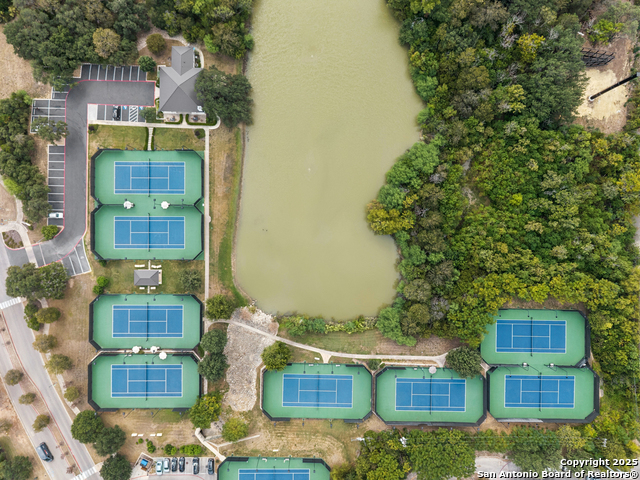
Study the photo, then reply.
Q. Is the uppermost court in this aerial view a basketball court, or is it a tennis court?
tennis court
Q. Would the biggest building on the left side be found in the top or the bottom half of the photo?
top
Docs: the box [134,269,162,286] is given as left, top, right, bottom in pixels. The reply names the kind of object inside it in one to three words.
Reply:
building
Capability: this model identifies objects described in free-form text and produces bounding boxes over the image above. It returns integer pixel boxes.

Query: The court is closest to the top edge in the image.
[95,150,204,205]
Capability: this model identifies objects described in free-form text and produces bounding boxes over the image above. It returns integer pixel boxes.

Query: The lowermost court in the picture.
[219,459,330,480]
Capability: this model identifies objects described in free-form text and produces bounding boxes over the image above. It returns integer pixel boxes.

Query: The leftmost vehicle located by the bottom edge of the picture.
[36,441,51,459]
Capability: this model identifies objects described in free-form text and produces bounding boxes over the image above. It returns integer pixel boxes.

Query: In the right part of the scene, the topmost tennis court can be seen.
[483,311,585,366]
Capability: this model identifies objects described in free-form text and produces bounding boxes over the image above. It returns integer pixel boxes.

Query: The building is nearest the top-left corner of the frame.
[160,46,206,116]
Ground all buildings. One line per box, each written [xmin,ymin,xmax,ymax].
[134,269,162,286]
[160,46,206,116]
